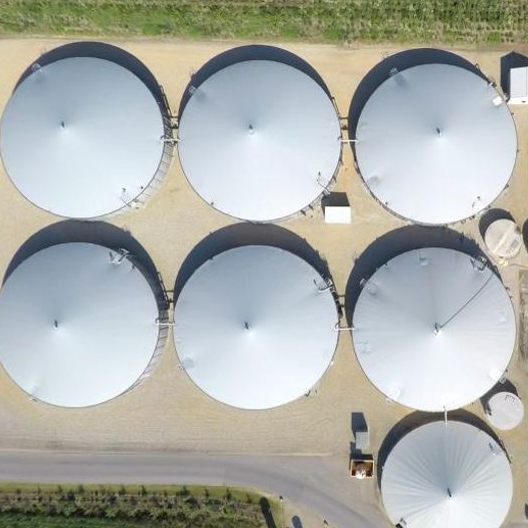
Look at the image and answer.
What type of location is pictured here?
industrial area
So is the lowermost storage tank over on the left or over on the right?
right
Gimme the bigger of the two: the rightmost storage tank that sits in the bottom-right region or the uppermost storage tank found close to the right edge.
the uppermost storage tank found close to the right edge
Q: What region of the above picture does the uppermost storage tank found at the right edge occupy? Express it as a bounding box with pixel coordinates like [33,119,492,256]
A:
[355,63,520,228]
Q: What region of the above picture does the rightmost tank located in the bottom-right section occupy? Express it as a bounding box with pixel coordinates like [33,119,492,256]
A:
[485,389,523,428]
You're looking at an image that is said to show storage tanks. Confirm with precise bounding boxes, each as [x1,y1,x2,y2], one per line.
[355,63,520,228]
[352,247,519,412]
[173,245,341,410]
[178,59,343,225]
[0,55,173,222]
[485,389,523,428]
[381,415,513,528]
[483,219,521,264]
[0,241,168,408]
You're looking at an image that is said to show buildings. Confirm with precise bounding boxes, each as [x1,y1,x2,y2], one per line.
[313,192,352,224]
[506,66,528,101]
